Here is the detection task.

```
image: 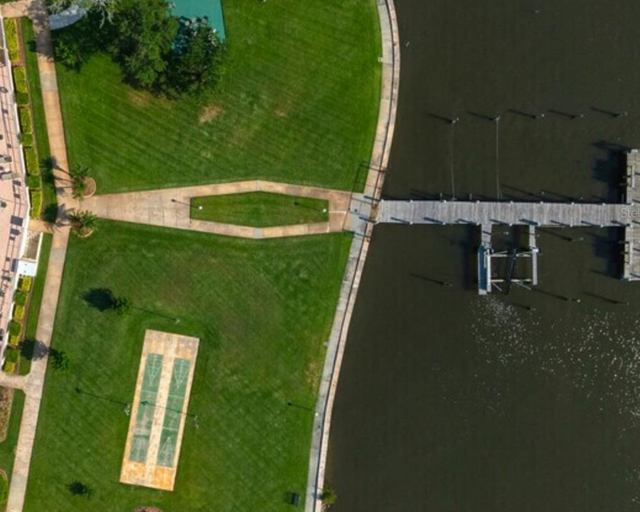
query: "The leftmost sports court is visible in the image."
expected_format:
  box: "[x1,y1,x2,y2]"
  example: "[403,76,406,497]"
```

[130,354,163,462]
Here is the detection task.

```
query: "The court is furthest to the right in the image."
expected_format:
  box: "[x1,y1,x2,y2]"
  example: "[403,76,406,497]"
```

[157,357,191,467]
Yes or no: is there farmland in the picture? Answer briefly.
No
